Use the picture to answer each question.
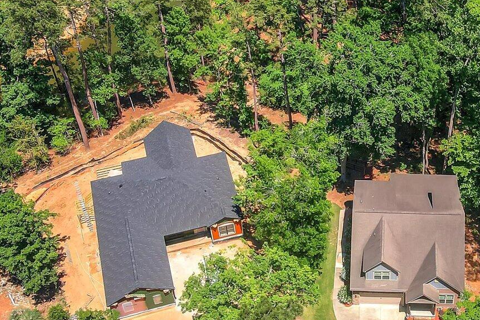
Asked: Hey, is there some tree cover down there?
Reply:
Yes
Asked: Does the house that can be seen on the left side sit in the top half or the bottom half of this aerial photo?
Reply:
bottom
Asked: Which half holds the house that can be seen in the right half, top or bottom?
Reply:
bottom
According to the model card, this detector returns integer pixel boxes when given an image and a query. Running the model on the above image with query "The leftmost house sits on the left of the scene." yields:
[92,123,244,320]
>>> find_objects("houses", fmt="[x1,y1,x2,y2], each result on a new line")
[349,159,467,320]
[92,123,244,320]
